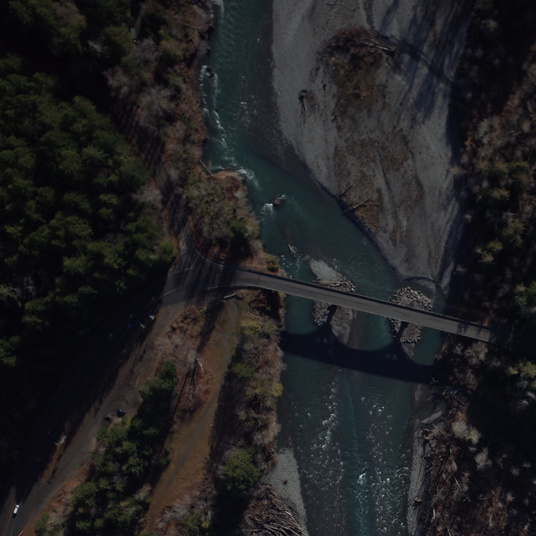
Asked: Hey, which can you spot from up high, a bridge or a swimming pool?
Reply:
bridge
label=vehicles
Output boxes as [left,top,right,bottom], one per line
[118,408,125,416]
[13,504,20,514]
